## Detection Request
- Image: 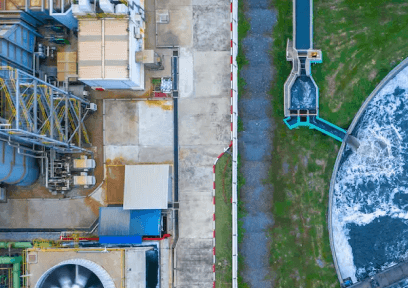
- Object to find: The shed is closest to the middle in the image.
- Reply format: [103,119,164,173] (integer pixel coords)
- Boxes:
[123,164,175,209]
